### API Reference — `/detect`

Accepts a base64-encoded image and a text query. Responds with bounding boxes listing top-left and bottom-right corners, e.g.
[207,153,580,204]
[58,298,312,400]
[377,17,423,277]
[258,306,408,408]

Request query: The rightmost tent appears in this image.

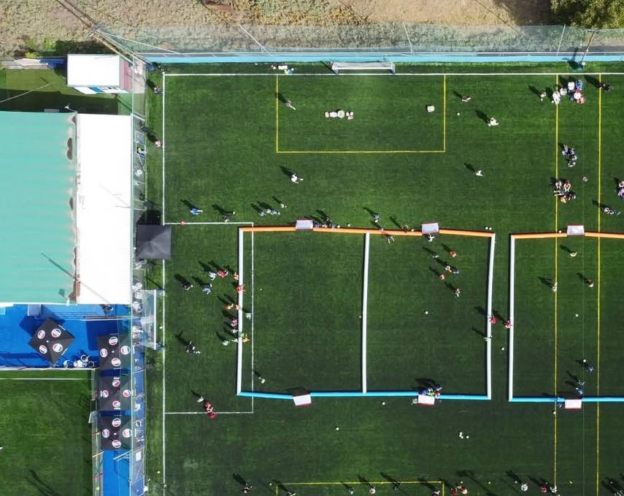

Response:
[137,225,179,260]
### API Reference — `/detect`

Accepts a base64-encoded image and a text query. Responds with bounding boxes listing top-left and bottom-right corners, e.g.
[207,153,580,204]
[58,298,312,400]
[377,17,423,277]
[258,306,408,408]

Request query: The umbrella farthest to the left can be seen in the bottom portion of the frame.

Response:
[30,317,75,363]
